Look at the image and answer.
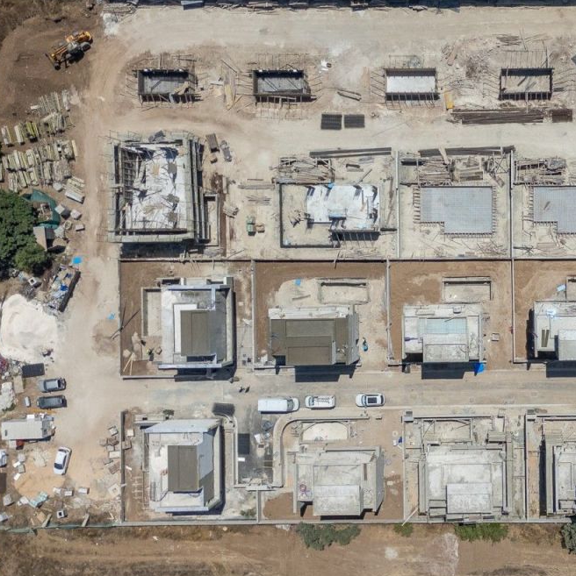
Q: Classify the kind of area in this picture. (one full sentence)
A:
This image shows a residential area.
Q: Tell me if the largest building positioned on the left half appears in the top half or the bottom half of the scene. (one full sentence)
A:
The largest building positioned on the left half sits in the top half of the picture.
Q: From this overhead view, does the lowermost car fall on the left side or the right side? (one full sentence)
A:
You can find the lowermost car on the left side of the picture.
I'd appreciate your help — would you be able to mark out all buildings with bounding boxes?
[100,134,213,242]
[425,438,506,513]
[268,306,360,364]
[293,442,384,516]
[35,226,61,250]
[1,414,63,441]
[159,276,246,368]
[552,438,576,511]
[144,422,222,511]
[532,300,576,360]
[403,303,484,362]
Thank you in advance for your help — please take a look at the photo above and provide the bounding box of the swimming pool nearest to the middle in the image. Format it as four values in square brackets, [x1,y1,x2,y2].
[319,276,370,303]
